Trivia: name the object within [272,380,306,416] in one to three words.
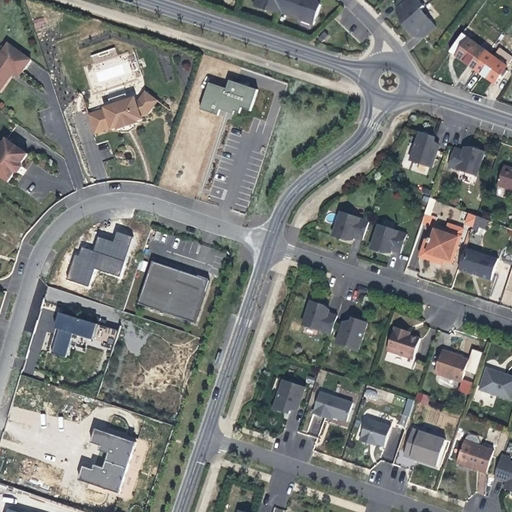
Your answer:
house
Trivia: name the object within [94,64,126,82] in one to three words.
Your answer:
swimming pool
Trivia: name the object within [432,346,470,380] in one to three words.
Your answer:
house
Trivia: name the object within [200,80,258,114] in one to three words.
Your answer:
building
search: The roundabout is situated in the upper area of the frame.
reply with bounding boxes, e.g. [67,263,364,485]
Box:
[372,64,408,98]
